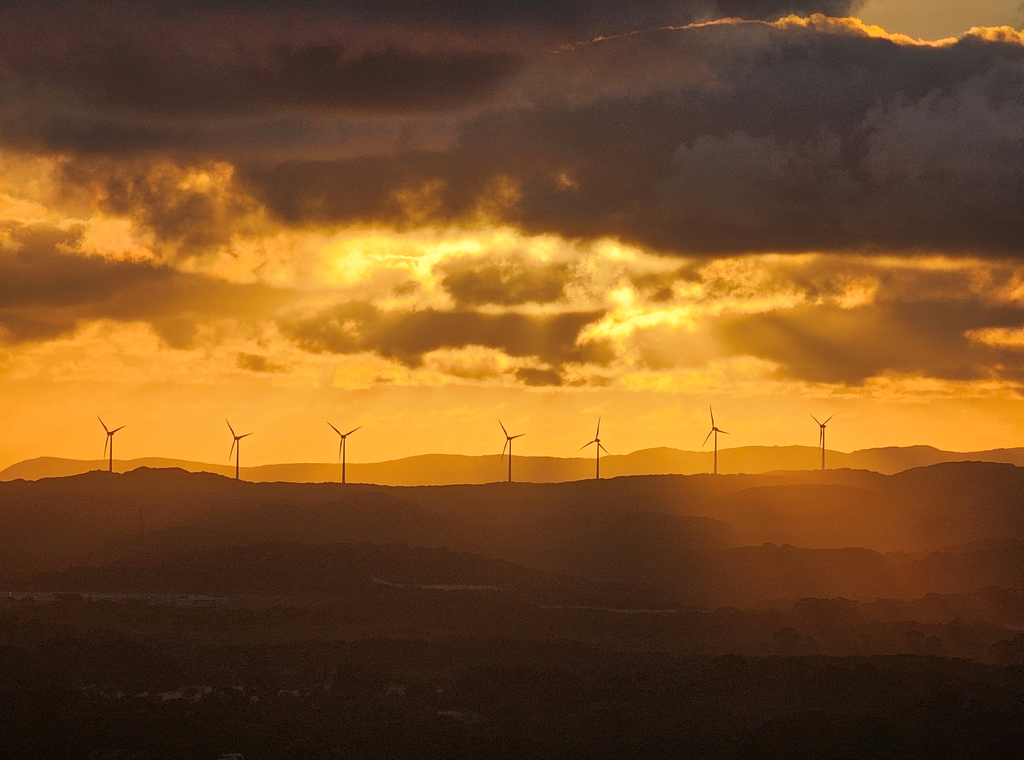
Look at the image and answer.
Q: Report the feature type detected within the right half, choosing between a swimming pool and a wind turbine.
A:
wind turbine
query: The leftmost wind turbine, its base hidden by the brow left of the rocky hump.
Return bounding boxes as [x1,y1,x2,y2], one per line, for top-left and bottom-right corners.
[98,417,125,472]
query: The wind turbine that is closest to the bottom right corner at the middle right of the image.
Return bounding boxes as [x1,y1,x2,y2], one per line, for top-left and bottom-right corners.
[810,414,831,468]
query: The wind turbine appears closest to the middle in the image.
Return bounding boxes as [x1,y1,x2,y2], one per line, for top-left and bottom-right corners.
[498,420,524,482]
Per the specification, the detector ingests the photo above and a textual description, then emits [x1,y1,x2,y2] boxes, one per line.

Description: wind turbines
[225,419,252,480]
[702,406,730,473]
[498,420,524,482]
[327,421,361,484]
[98,417,125,472]
[581,420,609,478]
[810,414,831,468]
